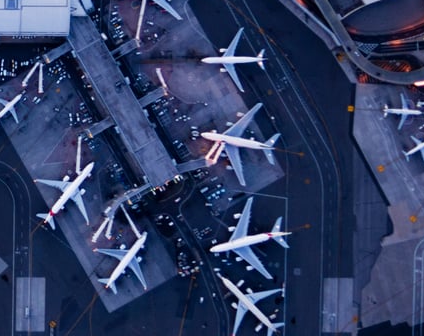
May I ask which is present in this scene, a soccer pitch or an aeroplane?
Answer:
aeroplane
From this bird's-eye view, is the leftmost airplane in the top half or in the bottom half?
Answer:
top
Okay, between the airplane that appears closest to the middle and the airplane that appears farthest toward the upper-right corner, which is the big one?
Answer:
the airplane that appears closest to the middle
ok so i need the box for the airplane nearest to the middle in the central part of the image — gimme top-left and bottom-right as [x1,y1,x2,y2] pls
[202,102,280,187]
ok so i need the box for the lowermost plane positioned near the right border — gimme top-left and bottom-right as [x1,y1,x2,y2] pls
[403,135,424,162]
